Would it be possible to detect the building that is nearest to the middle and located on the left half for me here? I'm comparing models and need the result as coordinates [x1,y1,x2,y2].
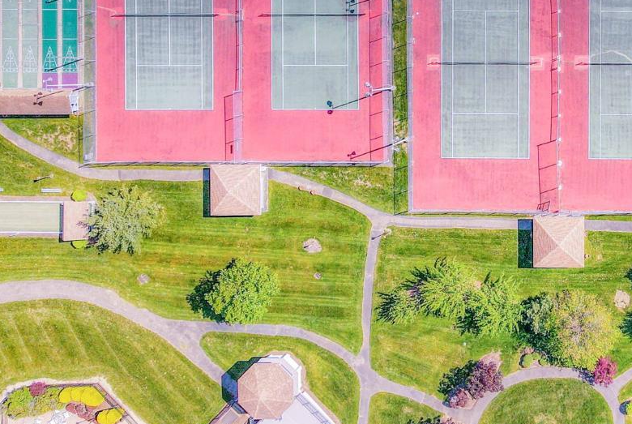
[209,163,267,217]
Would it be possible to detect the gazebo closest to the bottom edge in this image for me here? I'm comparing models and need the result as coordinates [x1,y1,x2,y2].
[239,354,299,418]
